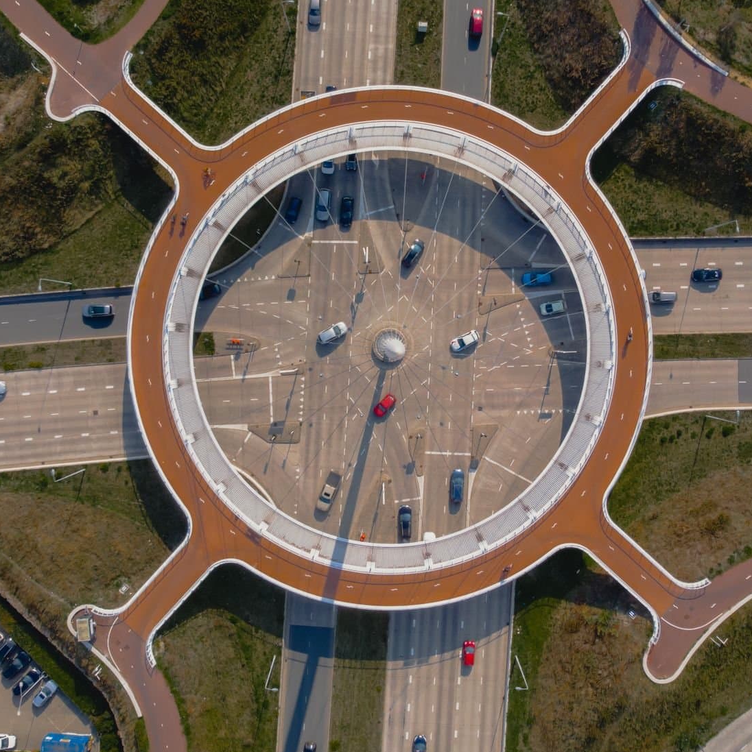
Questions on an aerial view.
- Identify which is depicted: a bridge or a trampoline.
bridge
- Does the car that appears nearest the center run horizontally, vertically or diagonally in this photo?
diagonally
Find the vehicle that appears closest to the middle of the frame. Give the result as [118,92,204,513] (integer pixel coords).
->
[371,393,396,420]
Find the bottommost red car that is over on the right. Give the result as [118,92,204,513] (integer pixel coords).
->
[463,641,477,667]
